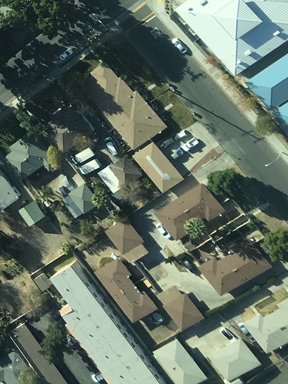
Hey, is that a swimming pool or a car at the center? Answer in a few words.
car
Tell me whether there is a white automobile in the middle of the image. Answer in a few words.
Yes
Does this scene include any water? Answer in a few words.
No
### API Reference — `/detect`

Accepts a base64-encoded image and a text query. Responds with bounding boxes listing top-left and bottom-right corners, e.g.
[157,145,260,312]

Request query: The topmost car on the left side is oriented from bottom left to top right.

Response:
[59,48,74,61]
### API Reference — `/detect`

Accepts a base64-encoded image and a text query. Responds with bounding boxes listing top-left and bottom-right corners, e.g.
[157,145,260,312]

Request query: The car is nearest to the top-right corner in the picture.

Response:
[172,37,188,53]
